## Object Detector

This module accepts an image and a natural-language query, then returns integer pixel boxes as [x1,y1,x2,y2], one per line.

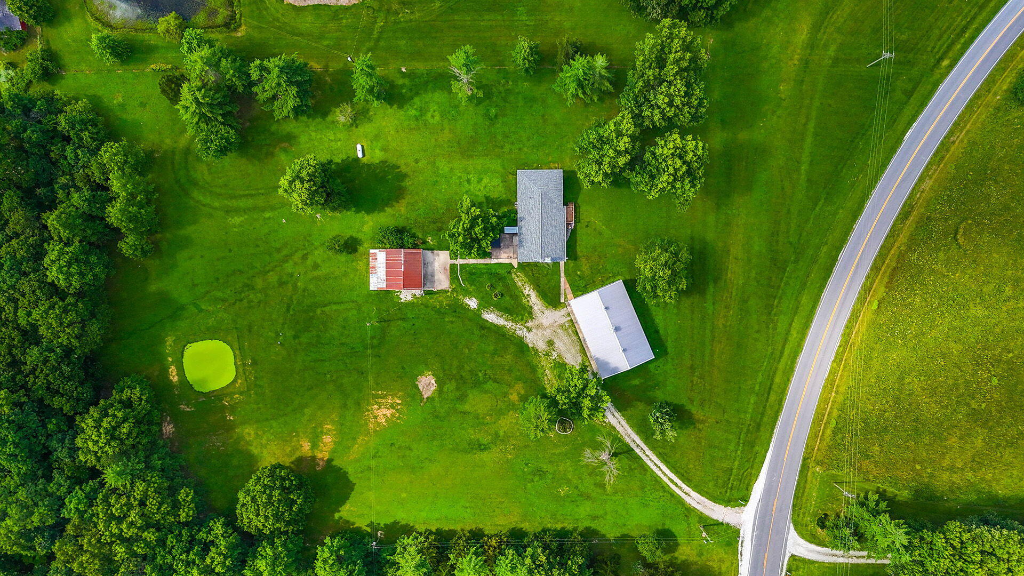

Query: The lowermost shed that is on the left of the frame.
[370,249,423,290]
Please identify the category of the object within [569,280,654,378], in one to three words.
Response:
barn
